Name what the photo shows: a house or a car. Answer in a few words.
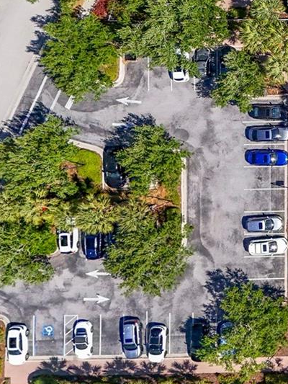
car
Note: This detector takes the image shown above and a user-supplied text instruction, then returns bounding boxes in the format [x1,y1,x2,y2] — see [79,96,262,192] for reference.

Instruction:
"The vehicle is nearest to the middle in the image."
[101,145,124,187]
